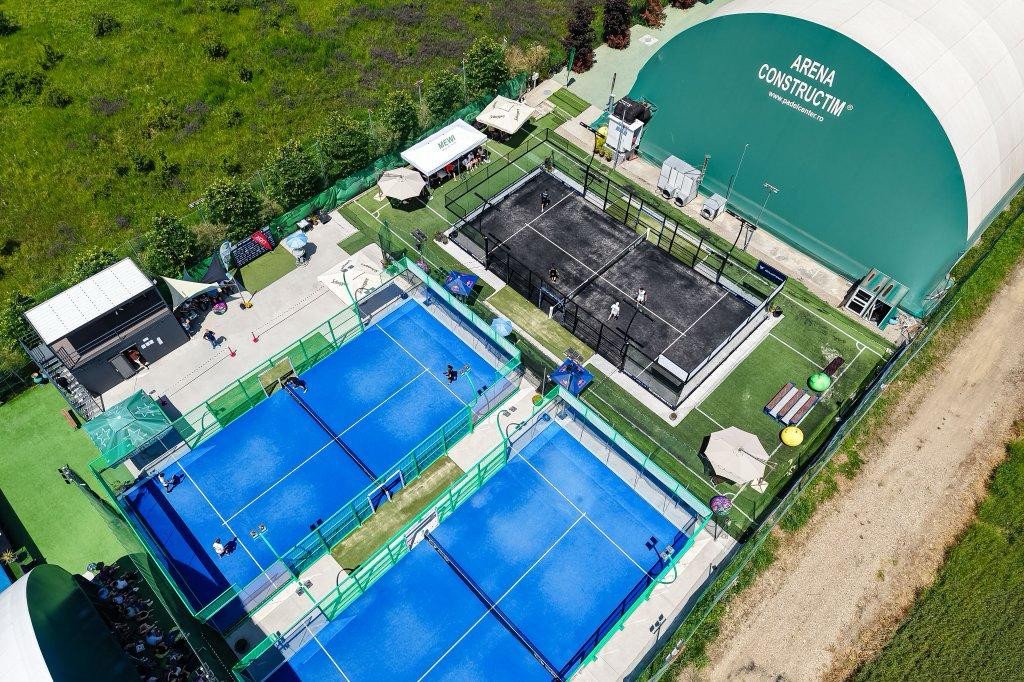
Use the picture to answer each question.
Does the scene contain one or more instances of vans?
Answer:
No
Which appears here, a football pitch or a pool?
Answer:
football pitch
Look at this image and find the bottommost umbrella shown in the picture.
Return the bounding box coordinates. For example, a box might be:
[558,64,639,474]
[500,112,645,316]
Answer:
[703,423,773,494]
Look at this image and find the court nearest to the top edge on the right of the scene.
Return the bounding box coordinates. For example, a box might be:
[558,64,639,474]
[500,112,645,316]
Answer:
[442,129,791,411]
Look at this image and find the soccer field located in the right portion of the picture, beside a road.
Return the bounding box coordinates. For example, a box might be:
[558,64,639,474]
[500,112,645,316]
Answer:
[335,89,912,548]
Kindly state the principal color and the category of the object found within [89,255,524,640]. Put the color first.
blue sports court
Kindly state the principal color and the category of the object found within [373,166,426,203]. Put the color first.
white umbrella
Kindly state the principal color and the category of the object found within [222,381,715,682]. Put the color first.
blue sports court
